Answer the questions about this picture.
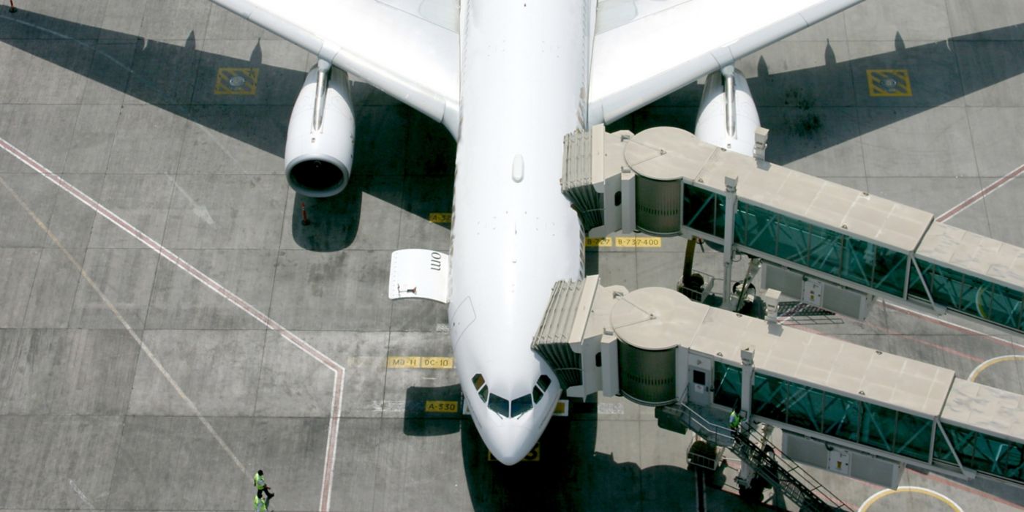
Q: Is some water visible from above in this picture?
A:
No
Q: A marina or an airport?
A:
airport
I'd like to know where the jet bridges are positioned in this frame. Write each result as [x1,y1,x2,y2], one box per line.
[557,120,1024,349]
[531,271,1024,512]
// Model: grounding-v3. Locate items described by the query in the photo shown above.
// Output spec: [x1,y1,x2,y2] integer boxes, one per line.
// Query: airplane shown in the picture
[207,0,866,466]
